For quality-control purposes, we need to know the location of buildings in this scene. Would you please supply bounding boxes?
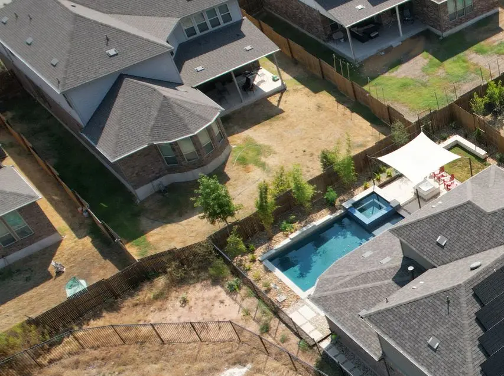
[0,165,63,272]
[248,0,495,65]
[0,0,287,201]
[306,181,504,376]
